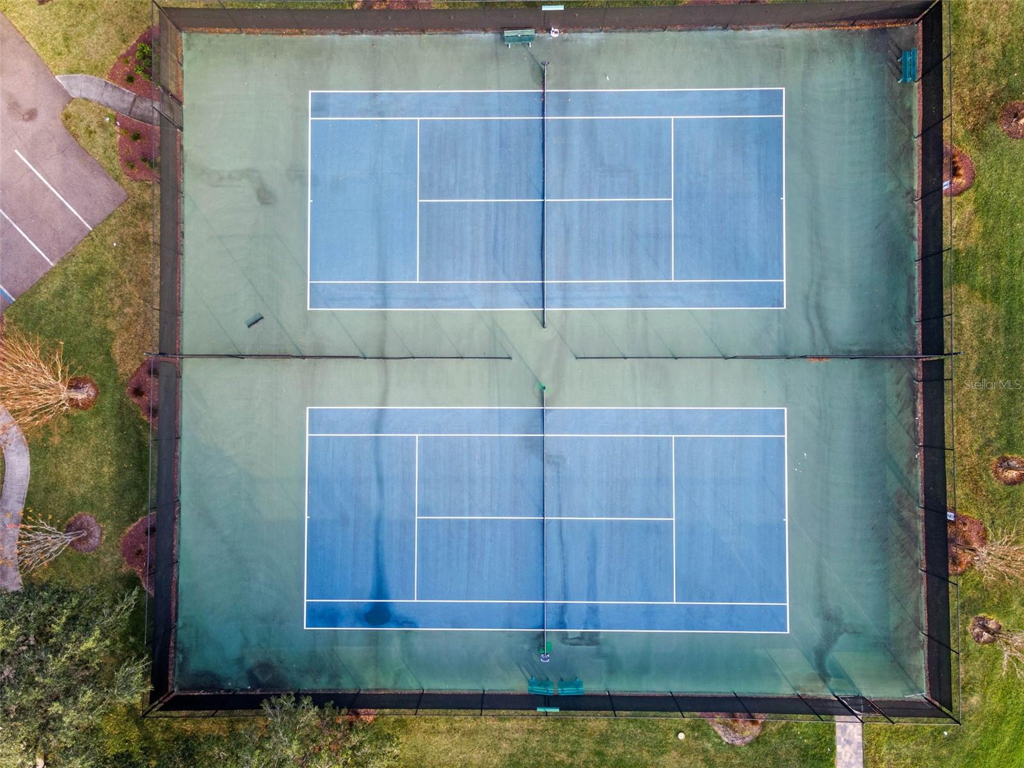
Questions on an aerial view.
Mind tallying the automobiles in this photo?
0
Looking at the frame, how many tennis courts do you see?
two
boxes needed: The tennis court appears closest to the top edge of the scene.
[308,89,786,309]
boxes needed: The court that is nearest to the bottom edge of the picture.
[306,408,788,632]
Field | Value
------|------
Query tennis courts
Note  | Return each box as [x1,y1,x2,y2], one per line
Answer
[308,89,786,309]
[306,408,788,632]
